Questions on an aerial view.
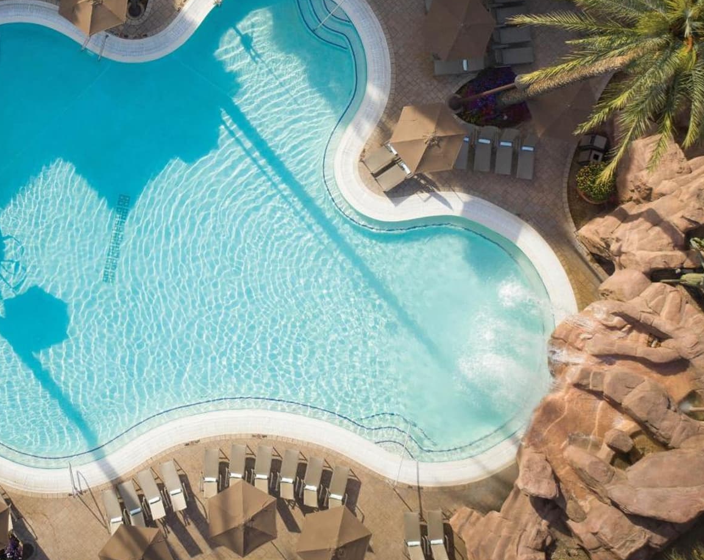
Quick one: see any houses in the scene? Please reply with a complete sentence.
No, no house can be seen from above.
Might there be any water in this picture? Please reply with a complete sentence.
Yes, the picture does contain water.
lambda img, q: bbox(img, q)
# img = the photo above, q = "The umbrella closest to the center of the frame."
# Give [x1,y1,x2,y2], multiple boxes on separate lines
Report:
[385,102,466,175]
